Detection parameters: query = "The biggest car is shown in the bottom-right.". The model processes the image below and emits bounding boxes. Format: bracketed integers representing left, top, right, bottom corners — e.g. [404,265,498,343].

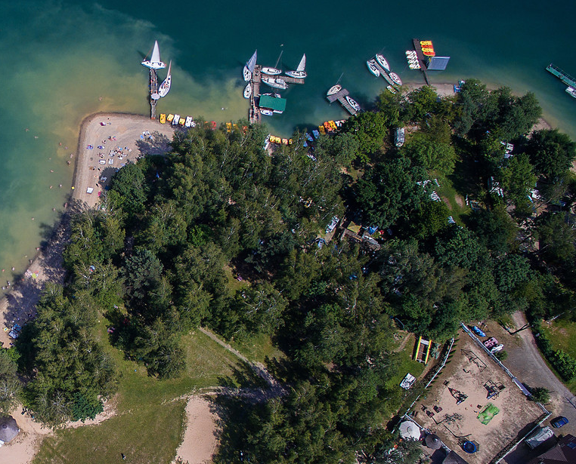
[551,416,570,429]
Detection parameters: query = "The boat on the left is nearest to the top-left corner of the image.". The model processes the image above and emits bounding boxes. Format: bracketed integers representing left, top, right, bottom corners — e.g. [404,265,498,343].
[142,43,166,68]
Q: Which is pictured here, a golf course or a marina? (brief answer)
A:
marina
